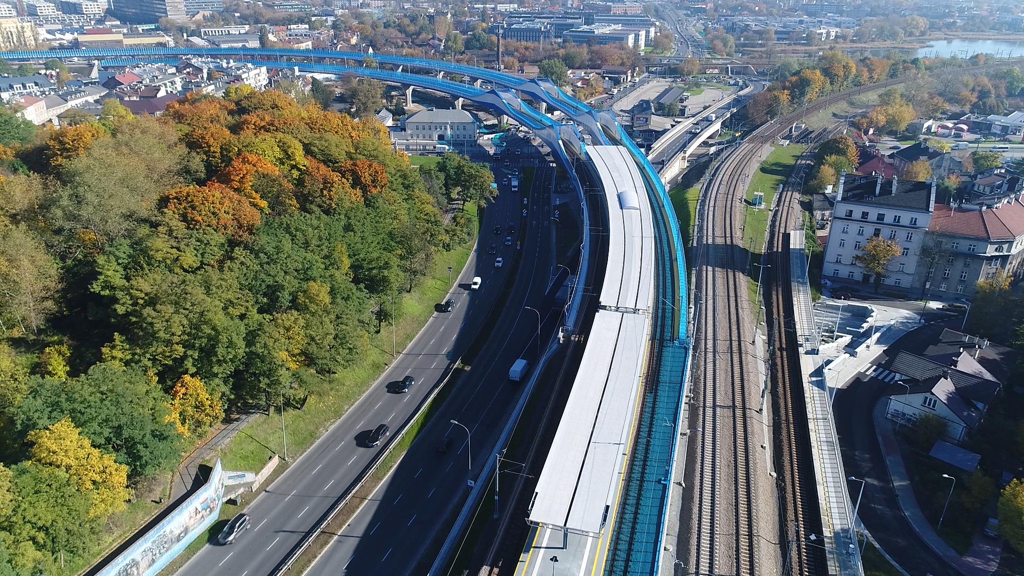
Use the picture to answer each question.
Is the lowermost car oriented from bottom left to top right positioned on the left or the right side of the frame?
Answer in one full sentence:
The lowermost car oriented from bottom left to top right appears in the left half of the scene.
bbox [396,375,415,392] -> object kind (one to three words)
car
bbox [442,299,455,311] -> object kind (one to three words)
vehicle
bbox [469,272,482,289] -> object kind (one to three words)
vehicle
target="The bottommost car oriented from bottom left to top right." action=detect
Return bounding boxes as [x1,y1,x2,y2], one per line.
[219,513,250,541]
